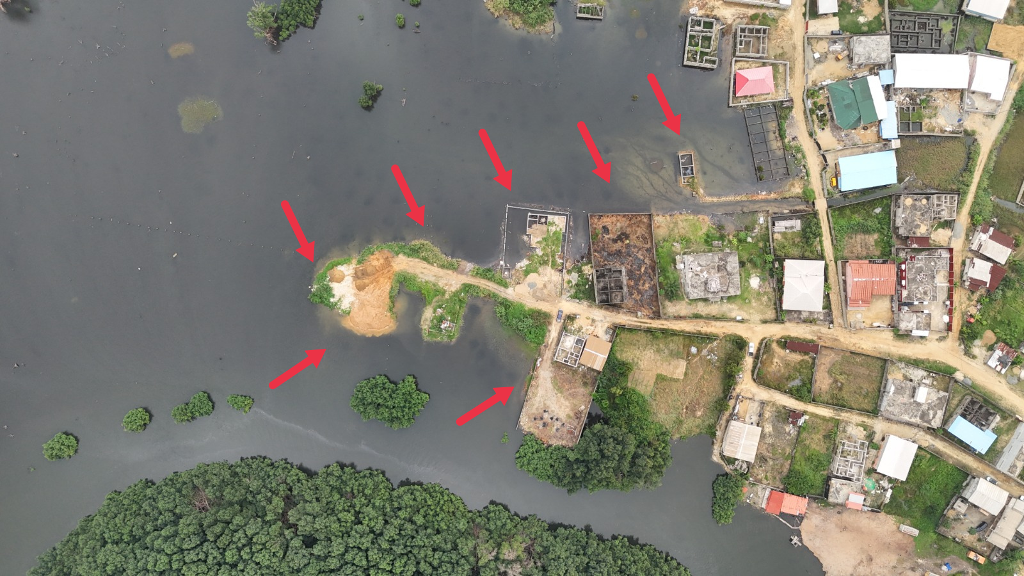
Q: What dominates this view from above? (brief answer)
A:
water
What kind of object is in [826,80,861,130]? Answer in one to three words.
building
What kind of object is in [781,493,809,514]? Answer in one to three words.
shed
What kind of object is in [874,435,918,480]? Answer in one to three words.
house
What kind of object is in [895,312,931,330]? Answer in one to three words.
house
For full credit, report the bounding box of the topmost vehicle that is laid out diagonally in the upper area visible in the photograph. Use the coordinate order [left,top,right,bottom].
[834,47,850,61]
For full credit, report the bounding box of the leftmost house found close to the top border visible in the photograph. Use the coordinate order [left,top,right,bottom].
[576,4,603,19]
